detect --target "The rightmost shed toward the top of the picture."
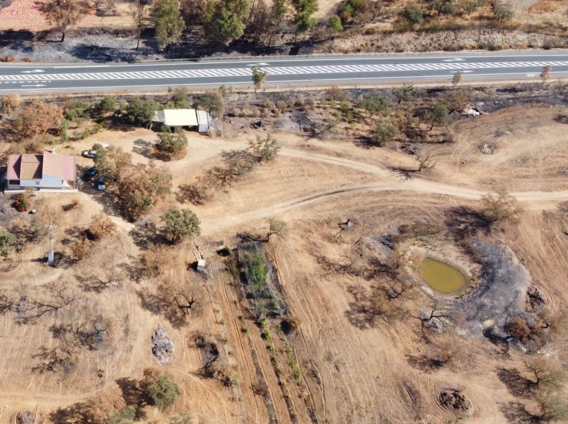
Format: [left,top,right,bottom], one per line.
[164,109,197,133]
